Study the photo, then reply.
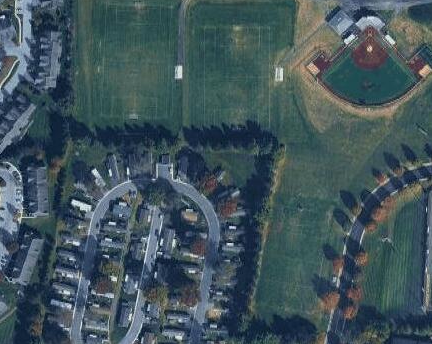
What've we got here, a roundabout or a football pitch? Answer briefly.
football pitch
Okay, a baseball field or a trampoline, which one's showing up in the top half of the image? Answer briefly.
baseball field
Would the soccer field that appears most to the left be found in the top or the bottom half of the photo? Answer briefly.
top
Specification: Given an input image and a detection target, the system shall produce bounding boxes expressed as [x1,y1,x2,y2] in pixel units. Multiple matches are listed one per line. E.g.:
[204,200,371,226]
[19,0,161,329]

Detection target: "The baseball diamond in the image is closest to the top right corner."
[318,23,421,107]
